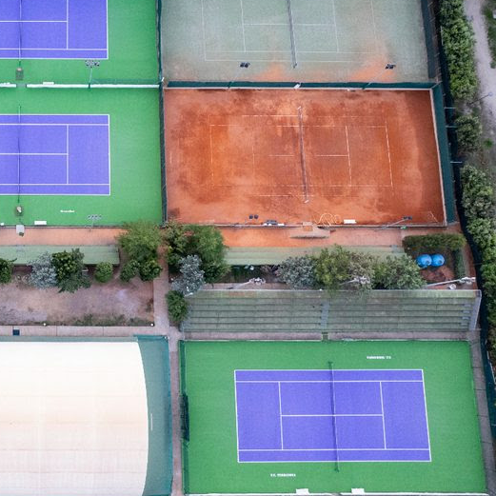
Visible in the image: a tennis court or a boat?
tennis court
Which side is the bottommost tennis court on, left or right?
right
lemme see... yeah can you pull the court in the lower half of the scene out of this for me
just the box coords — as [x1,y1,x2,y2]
[185,341,486,493]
